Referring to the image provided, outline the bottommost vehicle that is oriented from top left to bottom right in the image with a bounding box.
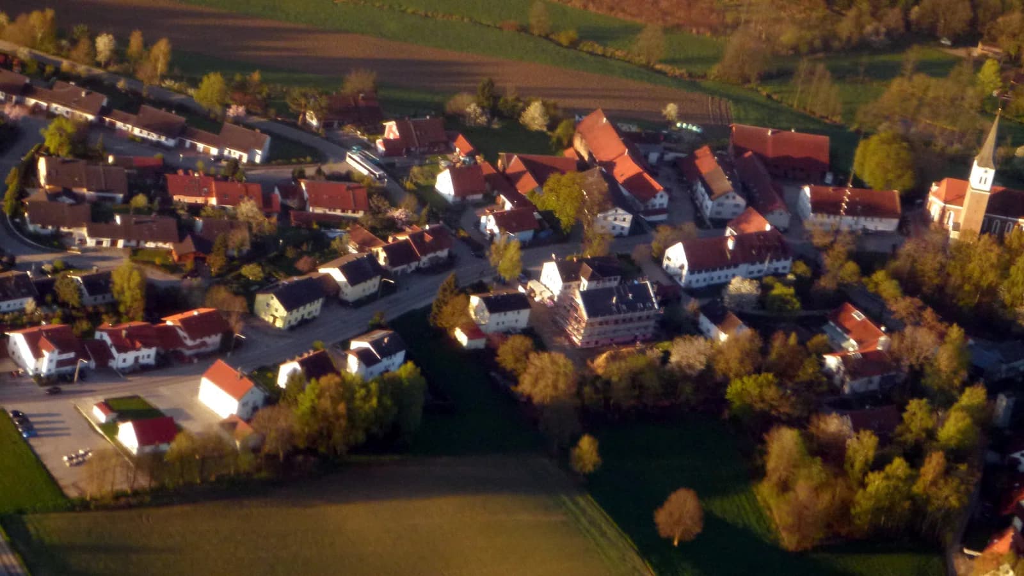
[528,277,556,303]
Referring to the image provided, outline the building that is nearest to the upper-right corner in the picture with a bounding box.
[979,43,1003,62]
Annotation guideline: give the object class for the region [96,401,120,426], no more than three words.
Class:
shed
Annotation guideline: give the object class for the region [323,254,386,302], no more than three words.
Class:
house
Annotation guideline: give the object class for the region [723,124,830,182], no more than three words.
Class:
barn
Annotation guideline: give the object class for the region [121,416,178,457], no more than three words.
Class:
building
